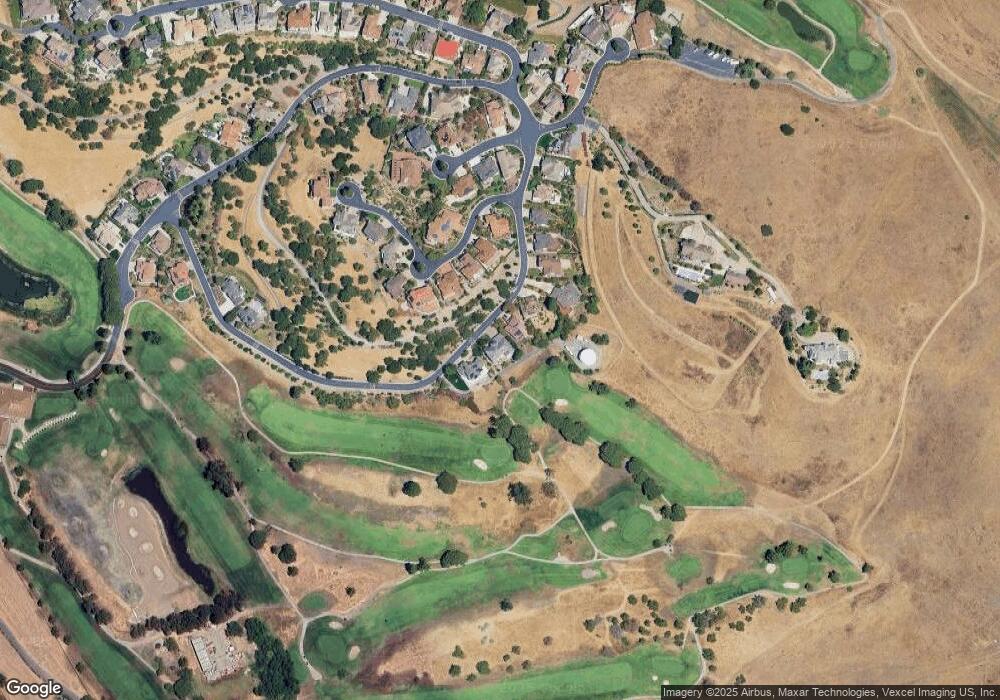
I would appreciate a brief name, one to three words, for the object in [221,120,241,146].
house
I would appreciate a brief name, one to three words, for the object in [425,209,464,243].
house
